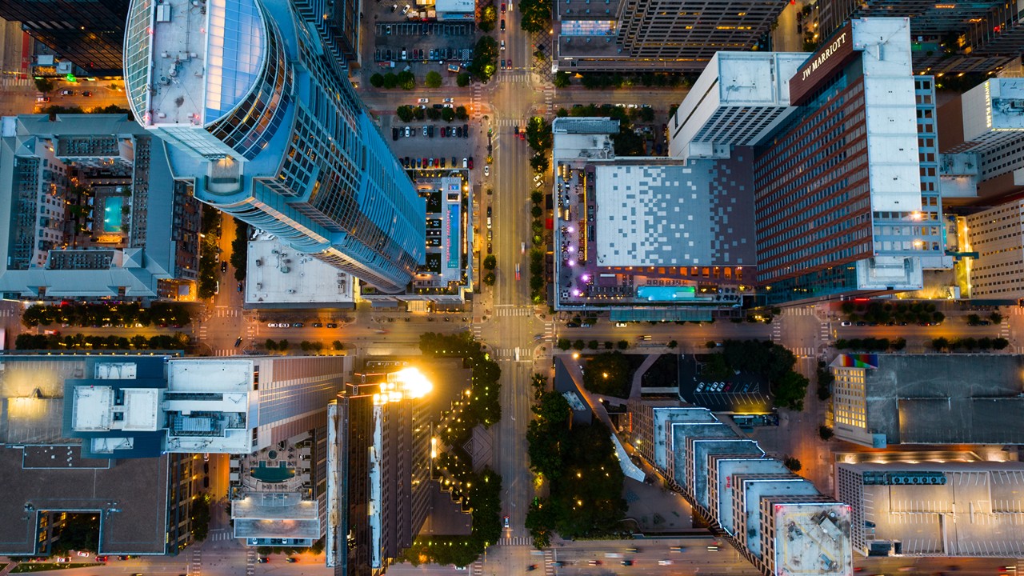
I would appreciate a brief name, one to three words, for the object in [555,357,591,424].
building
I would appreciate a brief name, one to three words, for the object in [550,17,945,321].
building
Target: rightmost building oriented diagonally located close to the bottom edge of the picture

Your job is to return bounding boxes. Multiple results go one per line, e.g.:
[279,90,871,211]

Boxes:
[628,398,855,576]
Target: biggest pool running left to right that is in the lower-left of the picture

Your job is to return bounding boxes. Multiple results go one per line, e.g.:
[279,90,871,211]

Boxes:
[250,467,296,482]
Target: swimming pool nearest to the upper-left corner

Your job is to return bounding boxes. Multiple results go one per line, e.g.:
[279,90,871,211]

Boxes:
[104,197,122,232]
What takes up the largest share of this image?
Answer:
buildings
